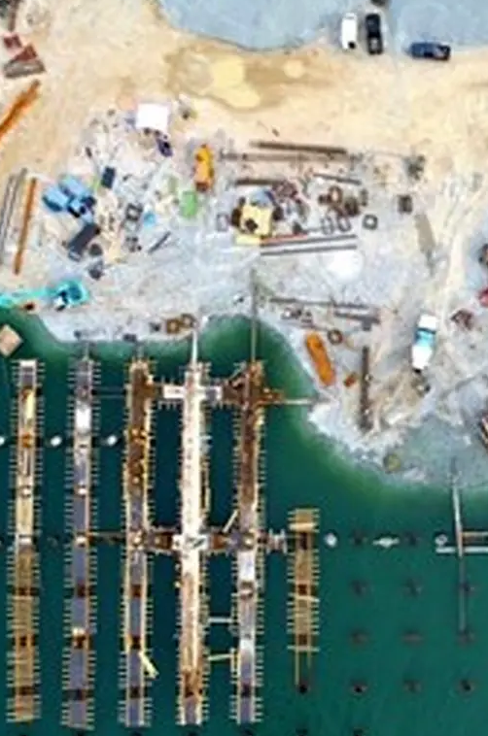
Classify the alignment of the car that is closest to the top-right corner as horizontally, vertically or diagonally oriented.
horizontally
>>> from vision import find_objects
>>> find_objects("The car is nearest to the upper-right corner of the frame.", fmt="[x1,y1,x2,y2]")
[410,39,449,59]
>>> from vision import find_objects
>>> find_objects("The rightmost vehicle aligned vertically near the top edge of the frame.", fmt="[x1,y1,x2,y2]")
[364,10,383,52]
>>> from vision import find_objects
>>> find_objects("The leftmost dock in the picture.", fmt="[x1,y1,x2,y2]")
[5,360,46,723]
